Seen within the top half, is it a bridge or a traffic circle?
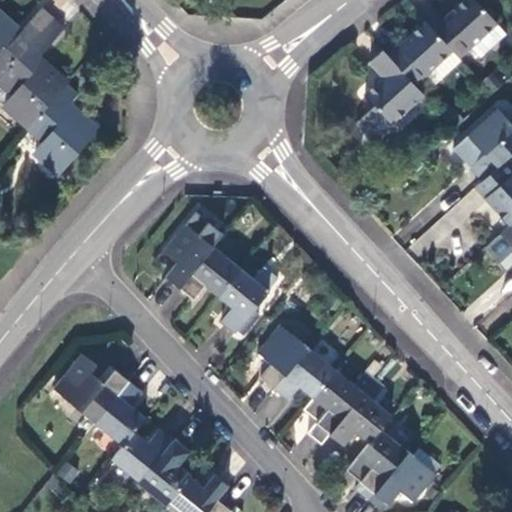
traffic circle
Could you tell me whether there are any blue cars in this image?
Yes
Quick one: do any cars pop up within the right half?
Yes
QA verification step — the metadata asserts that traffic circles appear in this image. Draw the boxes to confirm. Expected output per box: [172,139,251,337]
[148,30,292,178]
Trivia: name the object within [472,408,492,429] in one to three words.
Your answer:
car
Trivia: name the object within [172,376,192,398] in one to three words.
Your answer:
car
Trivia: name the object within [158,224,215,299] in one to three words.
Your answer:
house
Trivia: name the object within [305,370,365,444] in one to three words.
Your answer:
house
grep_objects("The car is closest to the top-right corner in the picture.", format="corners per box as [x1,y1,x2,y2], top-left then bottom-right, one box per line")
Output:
[441,190,460,210]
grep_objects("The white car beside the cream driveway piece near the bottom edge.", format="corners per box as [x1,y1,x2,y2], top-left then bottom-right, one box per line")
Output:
[230,476,251,498]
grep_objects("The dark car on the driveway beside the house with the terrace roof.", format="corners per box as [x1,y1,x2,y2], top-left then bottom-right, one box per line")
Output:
[156,283,172,304]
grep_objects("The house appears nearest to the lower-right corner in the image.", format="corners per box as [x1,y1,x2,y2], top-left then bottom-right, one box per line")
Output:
[380,444,442,511]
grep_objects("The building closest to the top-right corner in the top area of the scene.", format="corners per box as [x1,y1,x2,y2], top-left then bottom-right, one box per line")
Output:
[426,0,506,60]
